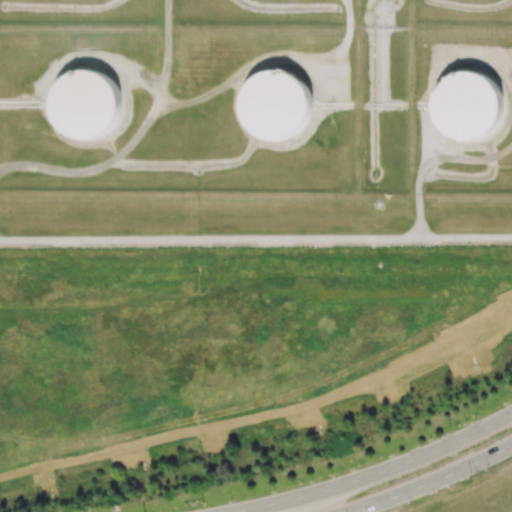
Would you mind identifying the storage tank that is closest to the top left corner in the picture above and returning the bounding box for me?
[47,68,123,142]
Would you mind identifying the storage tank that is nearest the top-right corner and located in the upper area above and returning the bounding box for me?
[429,69,506,144]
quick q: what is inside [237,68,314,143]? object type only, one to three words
storage tank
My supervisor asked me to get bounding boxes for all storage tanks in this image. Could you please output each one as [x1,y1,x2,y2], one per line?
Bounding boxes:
[429,69,506,144]
[47,68,123,142]
[237,68,314,143]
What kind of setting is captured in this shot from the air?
industrial area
